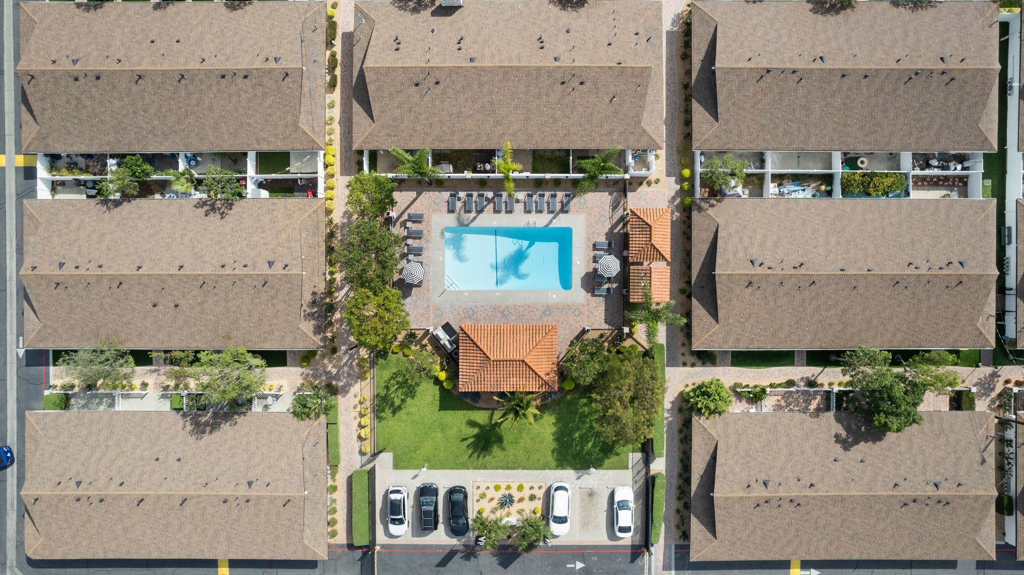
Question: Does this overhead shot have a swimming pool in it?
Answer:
Yes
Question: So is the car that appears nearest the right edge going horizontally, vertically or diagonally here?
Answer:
vertically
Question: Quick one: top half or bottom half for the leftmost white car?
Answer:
bottom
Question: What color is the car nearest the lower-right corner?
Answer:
white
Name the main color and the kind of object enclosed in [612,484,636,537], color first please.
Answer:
white car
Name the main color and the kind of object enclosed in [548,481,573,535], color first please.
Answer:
white car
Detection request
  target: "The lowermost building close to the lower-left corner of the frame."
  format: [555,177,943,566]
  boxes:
[19,410,328,561]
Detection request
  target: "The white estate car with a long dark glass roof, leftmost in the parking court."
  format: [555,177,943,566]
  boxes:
[385,484,409,535]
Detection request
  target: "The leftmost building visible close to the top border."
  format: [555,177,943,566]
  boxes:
[14,0,326,154]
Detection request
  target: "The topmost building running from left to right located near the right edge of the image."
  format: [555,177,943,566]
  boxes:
[692,0,1011,154]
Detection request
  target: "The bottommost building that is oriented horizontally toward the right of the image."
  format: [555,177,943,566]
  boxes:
[690,410,1008,562]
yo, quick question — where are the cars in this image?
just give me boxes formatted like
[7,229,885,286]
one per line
[417,480,440,535]
[612,484,636,537]
[446,483,470,535]
[0,445,18,467]
[385,484,409,535]
[548,481,573,535]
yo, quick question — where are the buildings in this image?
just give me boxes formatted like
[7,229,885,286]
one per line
[352,0,663,151]
[692,0,1011,154]
[1003,197,1024,350]
[19,410,328,561]
[628,207,672,263]
[1003,410,1024,562]
[629,266,672,303]
[691,197,1006,351]
[17,197,326,351]
[690,410,1008,562]
[14,0,326,154]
